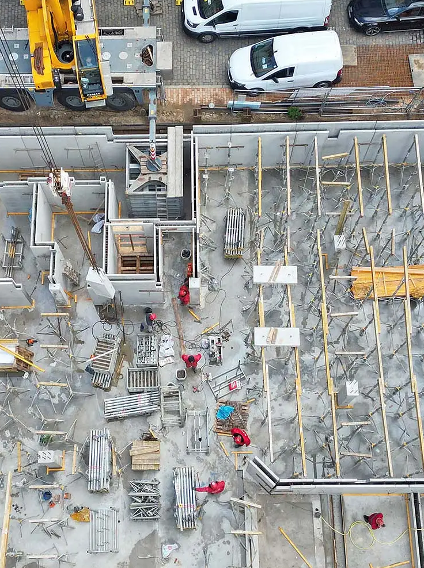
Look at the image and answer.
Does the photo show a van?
Yes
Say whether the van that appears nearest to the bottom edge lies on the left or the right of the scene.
right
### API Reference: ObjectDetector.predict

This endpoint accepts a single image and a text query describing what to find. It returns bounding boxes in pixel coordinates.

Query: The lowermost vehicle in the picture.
[233,24,346,95]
